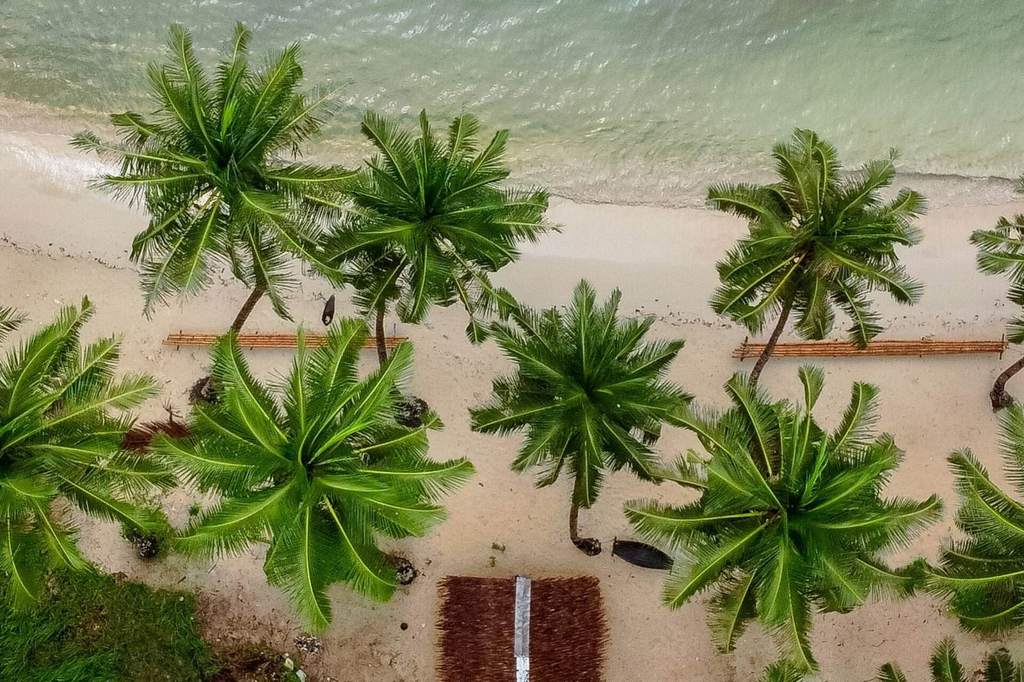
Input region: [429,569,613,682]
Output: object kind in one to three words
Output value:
shed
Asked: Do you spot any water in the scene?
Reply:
Yes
